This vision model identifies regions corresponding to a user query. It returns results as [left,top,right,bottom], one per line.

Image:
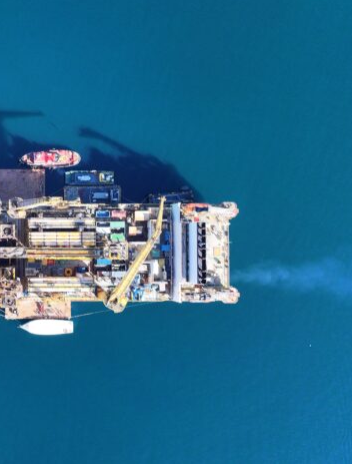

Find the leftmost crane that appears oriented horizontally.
[2,194,56,216]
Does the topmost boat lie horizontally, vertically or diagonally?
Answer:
horizontally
